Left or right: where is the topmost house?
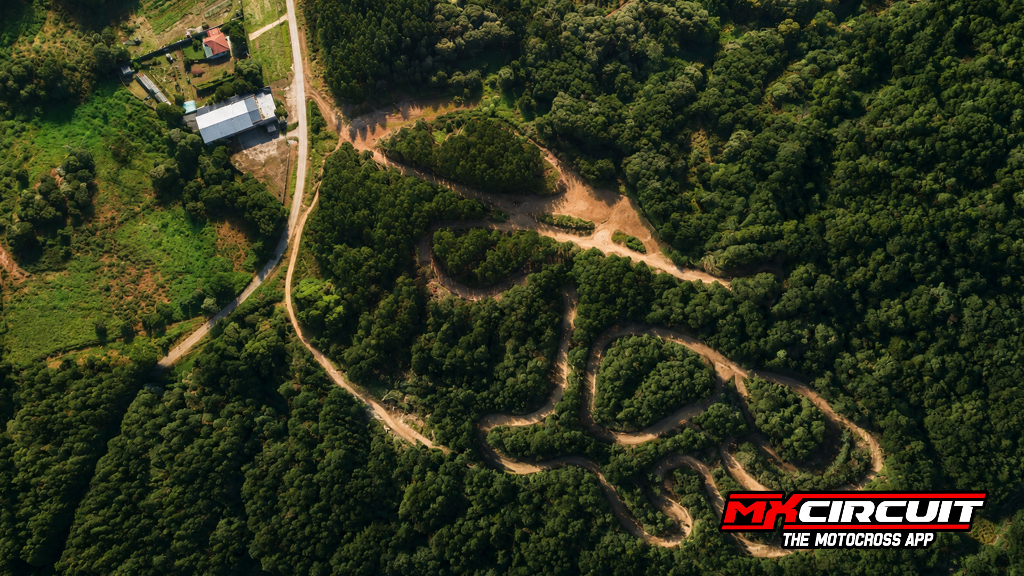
left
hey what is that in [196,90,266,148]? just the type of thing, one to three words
building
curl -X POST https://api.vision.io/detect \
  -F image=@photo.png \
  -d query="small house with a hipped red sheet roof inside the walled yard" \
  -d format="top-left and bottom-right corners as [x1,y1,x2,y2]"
[203,28,231,60]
